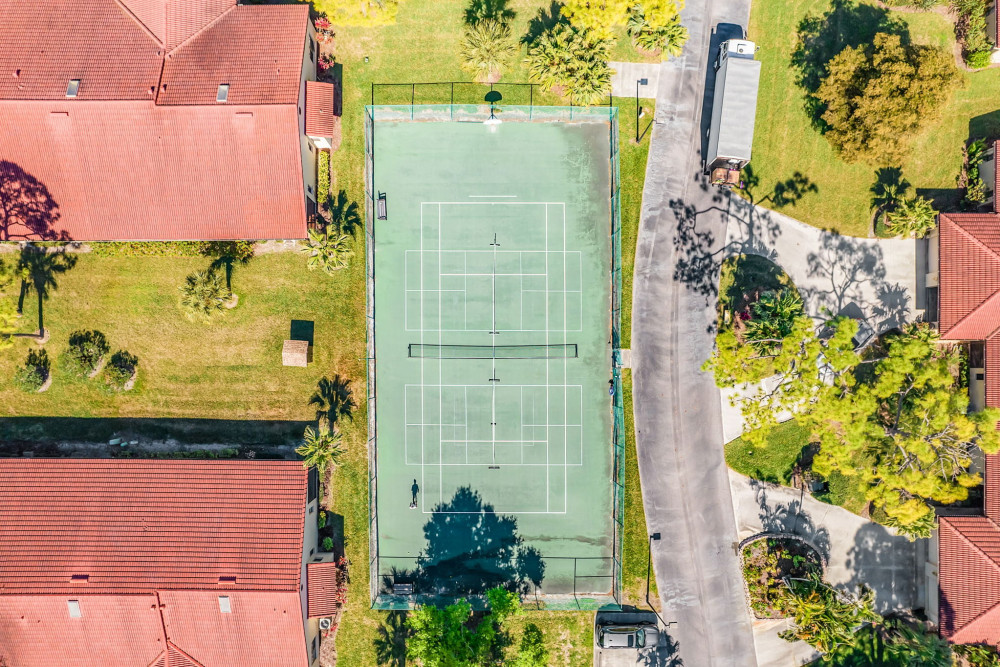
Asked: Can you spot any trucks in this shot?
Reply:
Yes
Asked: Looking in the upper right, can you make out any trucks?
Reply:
Yes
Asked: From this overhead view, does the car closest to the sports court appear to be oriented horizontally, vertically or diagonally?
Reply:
horizontally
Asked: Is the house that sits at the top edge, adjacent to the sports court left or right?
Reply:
left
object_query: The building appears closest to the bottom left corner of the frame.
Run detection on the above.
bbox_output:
[0,457,340,667]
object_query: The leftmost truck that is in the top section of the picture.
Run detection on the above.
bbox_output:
[703,38,762,187]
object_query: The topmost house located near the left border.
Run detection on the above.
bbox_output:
[0,0,338,241]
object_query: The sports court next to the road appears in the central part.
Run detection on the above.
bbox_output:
[364,110,616,601]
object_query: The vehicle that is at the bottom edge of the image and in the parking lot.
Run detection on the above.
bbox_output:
[597,620,662,654]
